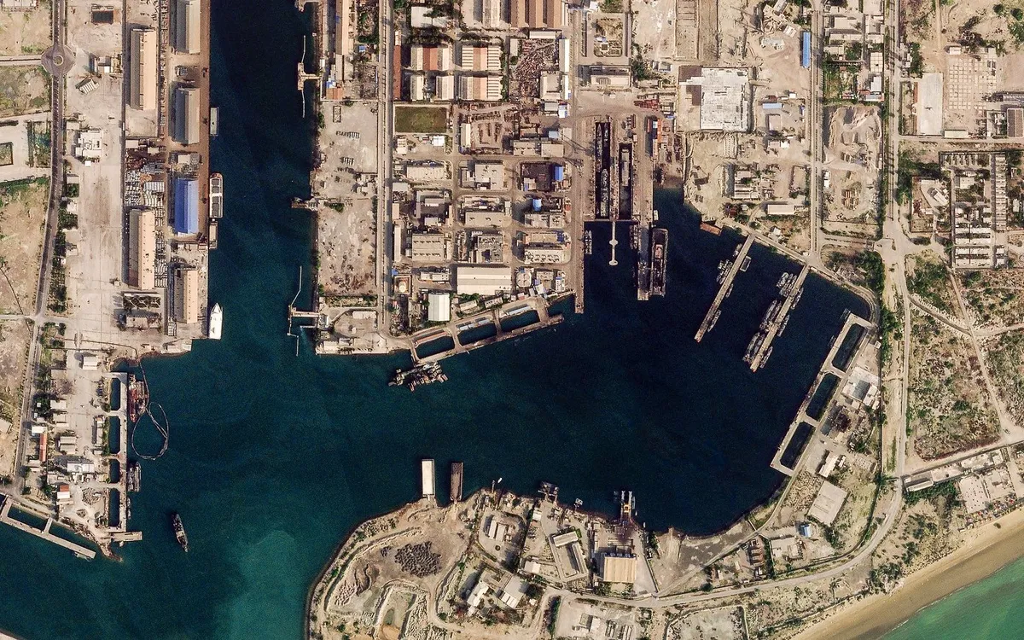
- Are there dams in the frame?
No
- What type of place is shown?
port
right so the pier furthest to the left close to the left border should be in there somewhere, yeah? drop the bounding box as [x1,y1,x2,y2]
[0,496,96,558]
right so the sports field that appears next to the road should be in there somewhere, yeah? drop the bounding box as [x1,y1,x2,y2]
[395,107,447,133]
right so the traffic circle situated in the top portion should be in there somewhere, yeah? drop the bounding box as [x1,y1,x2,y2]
[41,45,75,75]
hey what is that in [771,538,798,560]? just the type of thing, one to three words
building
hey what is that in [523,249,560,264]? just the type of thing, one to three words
building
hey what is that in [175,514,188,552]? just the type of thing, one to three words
ship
